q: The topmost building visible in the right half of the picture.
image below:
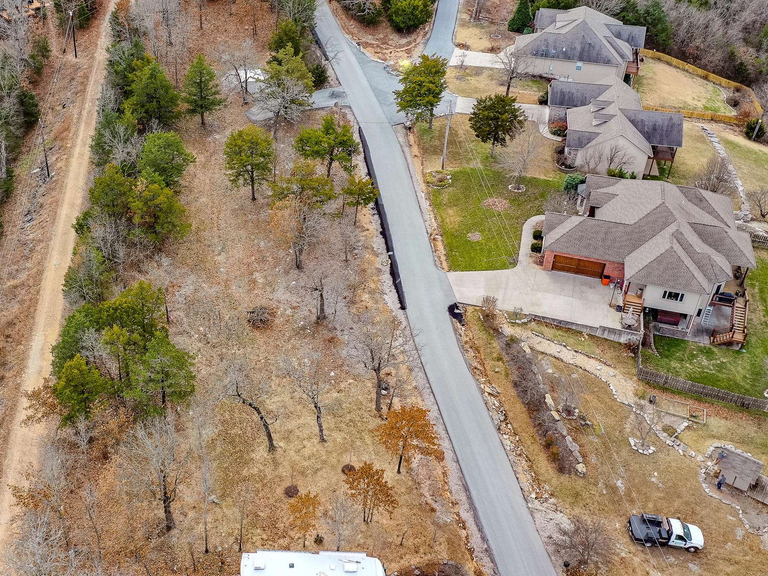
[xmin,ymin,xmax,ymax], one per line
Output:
[514,8,660,92]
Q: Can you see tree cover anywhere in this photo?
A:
Yes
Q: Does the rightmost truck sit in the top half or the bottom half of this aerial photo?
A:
bottom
